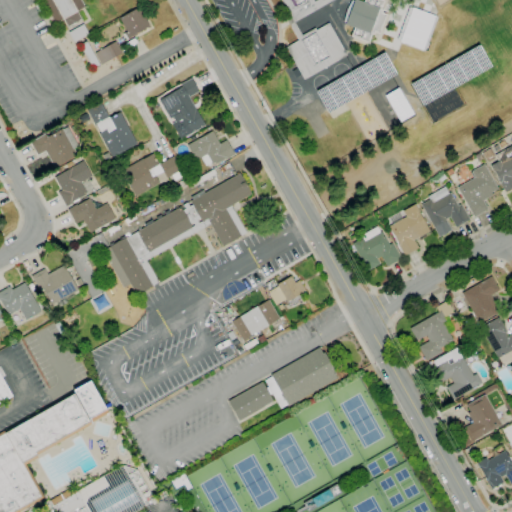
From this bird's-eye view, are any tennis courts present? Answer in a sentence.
Yes, the frame does contain a tennis court.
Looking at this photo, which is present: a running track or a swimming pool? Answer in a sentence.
The image shows a swimming pool.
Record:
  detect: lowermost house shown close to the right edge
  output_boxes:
[480,450,512,490]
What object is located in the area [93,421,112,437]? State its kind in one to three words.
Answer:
swimming pool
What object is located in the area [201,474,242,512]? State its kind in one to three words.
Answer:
tennis court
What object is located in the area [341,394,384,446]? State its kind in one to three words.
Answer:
tennis court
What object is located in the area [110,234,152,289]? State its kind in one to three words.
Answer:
building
